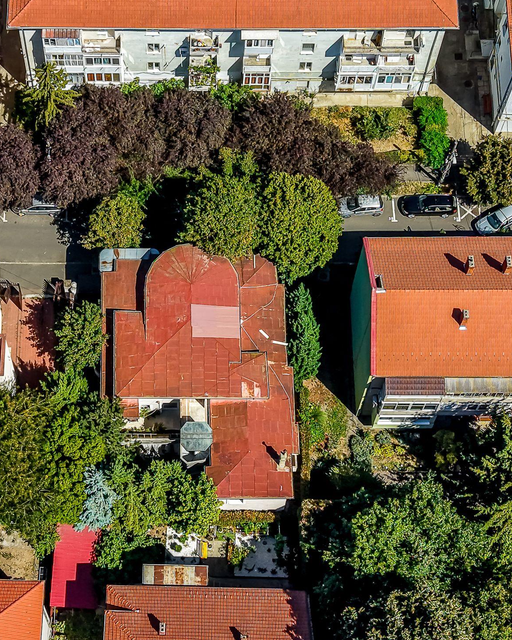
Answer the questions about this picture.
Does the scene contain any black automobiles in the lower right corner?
No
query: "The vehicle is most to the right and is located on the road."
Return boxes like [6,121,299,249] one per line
[471,202,512,237]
